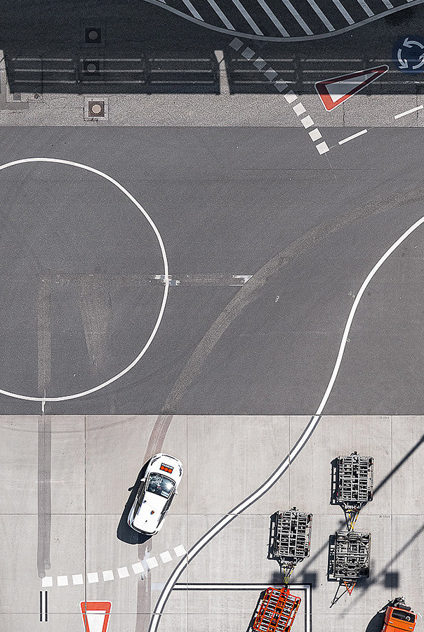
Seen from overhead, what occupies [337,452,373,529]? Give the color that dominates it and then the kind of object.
gray trailer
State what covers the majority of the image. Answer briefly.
paved ground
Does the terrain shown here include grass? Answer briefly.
No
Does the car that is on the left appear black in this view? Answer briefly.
No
